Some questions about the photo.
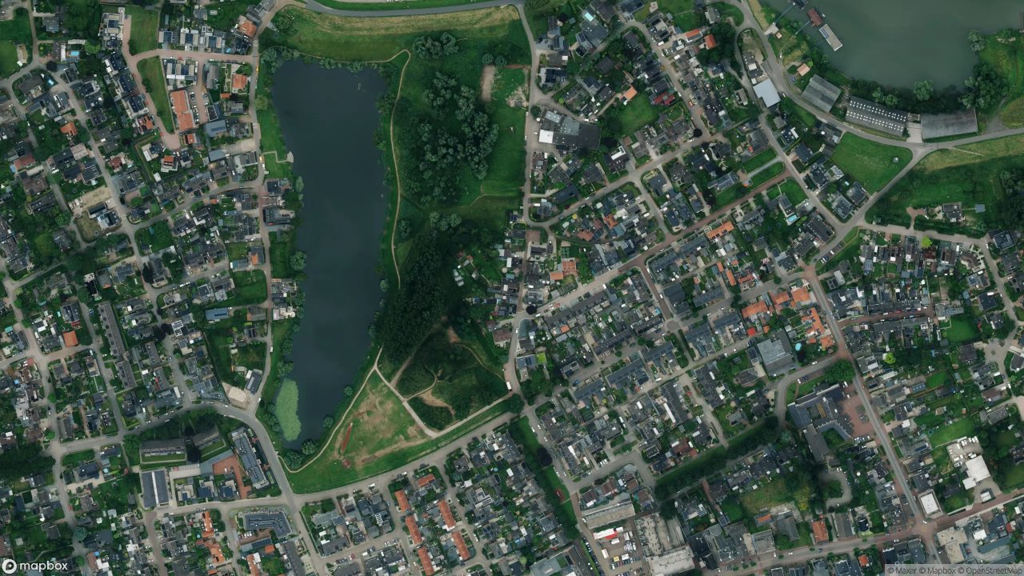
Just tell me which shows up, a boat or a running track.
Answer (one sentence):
It is a boat that can be seen here.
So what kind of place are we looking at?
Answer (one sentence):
It's a residential area.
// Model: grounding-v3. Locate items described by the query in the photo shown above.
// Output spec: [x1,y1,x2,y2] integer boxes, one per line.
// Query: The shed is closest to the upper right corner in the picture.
[920,108,978,139]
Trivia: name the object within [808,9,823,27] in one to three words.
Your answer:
boat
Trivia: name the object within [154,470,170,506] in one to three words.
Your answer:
house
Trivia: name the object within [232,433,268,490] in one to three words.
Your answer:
building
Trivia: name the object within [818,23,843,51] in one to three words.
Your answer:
boat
